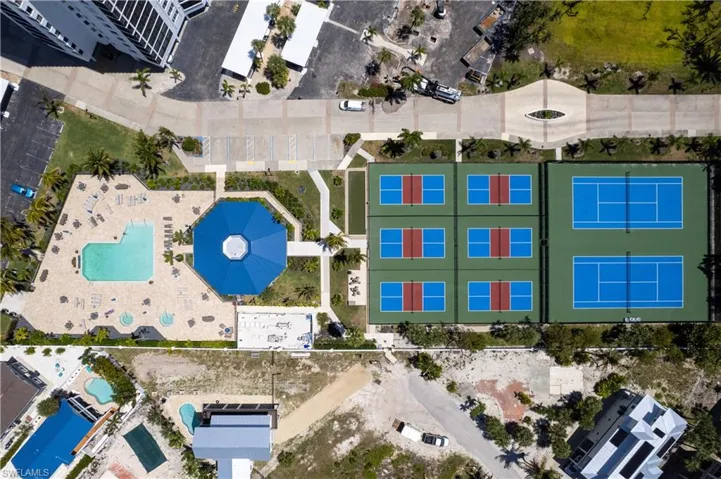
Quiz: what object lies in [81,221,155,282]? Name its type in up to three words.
swimming pool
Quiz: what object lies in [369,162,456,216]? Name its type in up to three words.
sports court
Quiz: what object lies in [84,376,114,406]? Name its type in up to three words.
swimming pool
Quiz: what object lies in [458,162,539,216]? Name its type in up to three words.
sports court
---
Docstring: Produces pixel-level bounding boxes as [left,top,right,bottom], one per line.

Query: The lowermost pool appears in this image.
[177,402,198,437]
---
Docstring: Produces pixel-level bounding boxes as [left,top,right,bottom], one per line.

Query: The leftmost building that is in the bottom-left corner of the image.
[0,356,53,438]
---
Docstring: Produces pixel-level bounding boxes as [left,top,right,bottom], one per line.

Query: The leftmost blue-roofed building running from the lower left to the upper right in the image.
[0,391,116,479]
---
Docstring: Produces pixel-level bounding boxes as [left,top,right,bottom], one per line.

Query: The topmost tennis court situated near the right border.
[549,162,708,243]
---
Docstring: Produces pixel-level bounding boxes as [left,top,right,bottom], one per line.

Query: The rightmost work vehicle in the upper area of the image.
[467,68,485,85]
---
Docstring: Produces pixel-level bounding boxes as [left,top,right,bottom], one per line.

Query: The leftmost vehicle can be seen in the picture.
[9,183,35,198]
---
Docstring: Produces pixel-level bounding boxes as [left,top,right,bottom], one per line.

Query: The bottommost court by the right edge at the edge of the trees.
[549,243,708,323]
